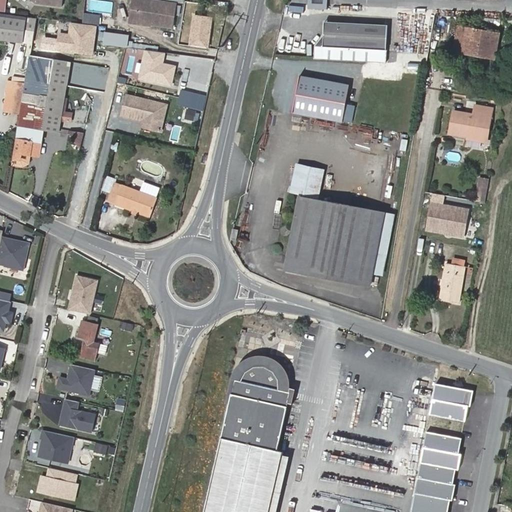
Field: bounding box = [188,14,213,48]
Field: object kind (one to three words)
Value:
house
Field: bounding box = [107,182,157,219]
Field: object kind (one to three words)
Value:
house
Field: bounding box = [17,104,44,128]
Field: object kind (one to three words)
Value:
building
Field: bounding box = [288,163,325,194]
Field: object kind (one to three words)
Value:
shed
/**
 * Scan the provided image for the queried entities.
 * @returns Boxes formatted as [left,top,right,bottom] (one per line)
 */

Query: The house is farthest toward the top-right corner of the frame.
[455,26,500,60]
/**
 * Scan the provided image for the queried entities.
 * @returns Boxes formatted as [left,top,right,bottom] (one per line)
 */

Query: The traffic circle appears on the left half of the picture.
[166,255,221,310]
